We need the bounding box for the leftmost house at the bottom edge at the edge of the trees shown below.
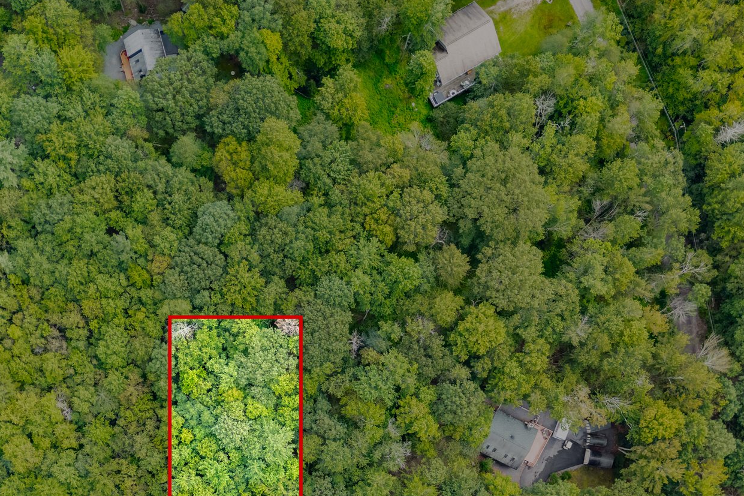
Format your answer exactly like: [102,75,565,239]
[478,406,553,488]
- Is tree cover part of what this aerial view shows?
Yes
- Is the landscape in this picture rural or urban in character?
rural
